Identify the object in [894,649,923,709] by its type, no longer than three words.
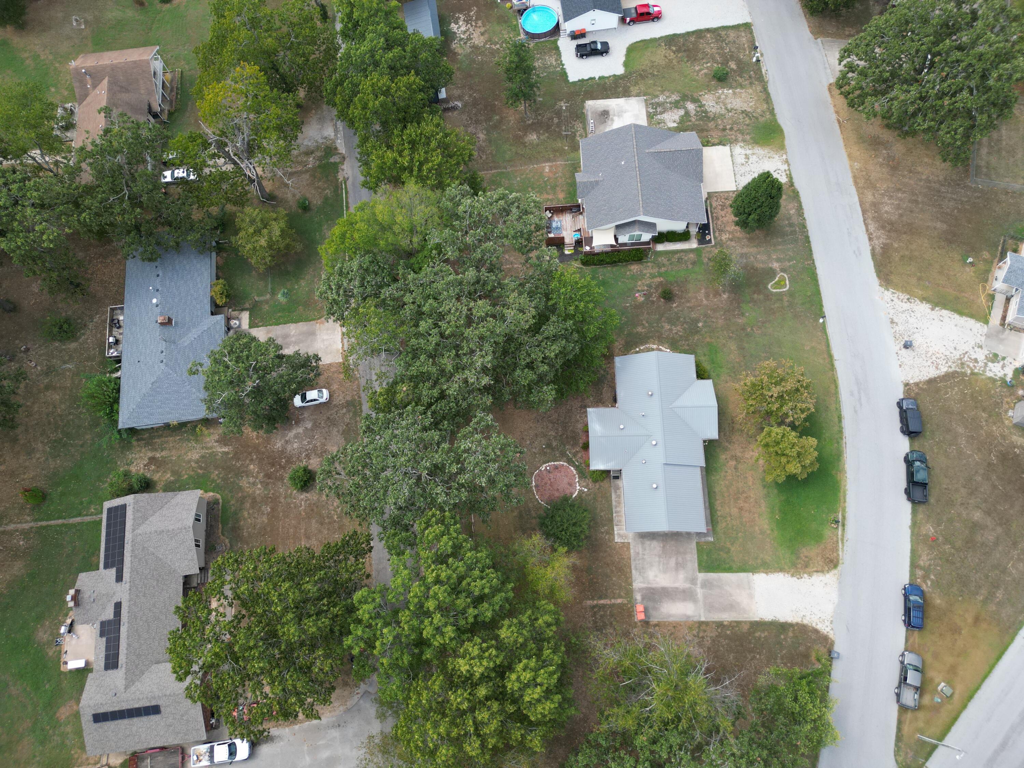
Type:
truck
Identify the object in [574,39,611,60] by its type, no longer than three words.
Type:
truck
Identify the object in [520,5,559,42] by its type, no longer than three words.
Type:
swimming pool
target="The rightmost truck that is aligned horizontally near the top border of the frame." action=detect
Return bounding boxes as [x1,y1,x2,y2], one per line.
[621,4,663,26]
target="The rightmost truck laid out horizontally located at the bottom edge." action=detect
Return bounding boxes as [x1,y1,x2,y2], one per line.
[190,738,254,768]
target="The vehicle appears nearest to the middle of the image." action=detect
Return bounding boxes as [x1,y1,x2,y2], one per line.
[292,388,331,408]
